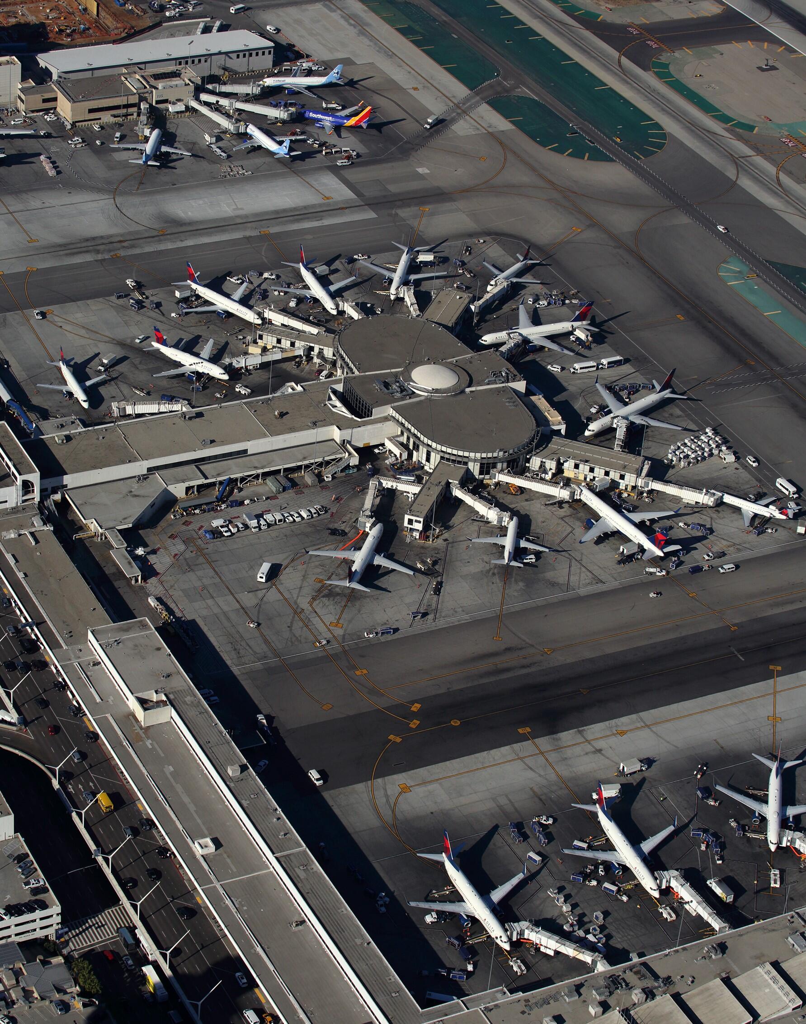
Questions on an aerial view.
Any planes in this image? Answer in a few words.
Yes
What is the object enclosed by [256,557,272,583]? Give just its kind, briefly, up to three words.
vehicle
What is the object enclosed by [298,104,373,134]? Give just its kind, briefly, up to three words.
airplane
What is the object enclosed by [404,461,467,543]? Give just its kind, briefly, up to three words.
building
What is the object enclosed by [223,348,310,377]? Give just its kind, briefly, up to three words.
jet bridge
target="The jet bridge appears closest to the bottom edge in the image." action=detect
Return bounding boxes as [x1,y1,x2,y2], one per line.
[511,925,605,973]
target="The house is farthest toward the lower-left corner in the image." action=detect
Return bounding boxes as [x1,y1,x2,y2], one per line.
[16,951,84,1013]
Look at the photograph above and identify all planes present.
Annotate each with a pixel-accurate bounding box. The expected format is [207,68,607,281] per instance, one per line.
[470,516,553,566]
[482,248,543,293]
[175,265,262,326]
[701,488,798,524]
[109,129,192,163]
[562,785,680,901]
[260,63,344,95]
[477,299,598,353]
[408,833,528,953]
[33,350,108,411]
[232,122,308,156]
[358,235,449,302]
[309,524,419,588]
[141,327,230,384]
[269,248,358,317]
[714,742,806,854]
[583,371,687,440]
[298,104,373,134]
[579,488,681,559]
